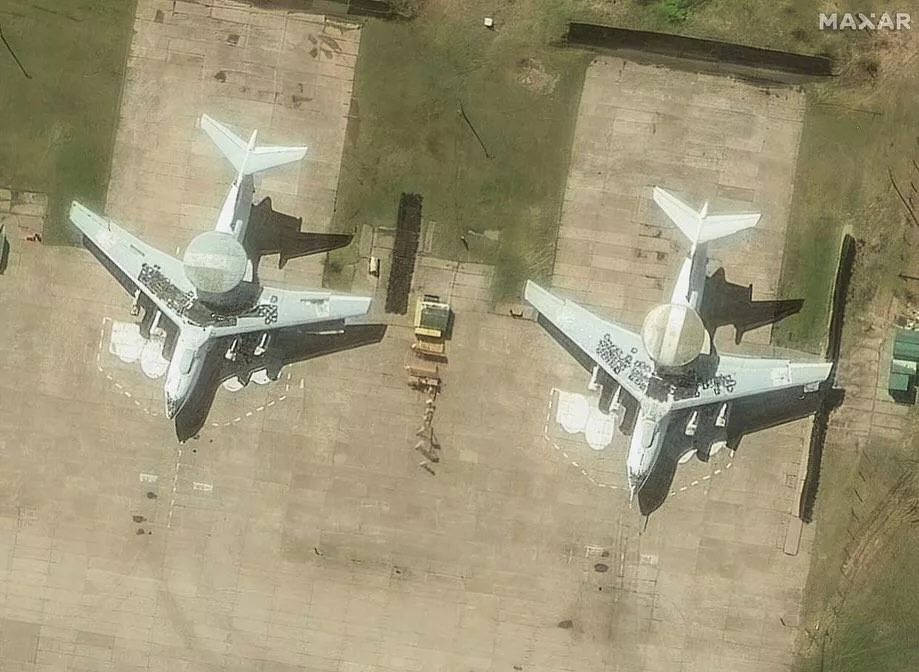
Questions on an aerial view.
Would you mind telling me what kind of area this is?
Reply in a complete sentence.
It's an airport.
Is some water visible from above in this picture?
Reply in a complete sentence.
No, there's no water in this view.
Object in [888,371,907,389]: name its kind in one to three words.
shed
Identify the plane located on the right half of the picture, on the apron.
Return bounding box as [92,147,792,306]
[521,188,829,506]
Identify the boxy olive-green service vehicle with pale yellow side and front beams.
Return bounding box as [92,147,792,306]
[412,290,452,341]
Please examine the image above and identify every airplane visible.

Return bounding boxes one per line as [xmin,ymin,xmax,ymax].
[70,116,372,416]
[521,188,829,506]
